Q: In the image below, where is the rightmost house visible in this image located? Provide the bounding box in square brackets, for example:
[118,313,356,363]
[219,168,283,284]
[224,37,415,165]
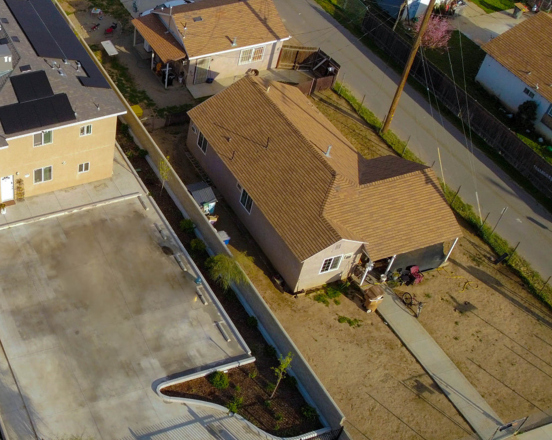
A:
[472,11,552,142]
